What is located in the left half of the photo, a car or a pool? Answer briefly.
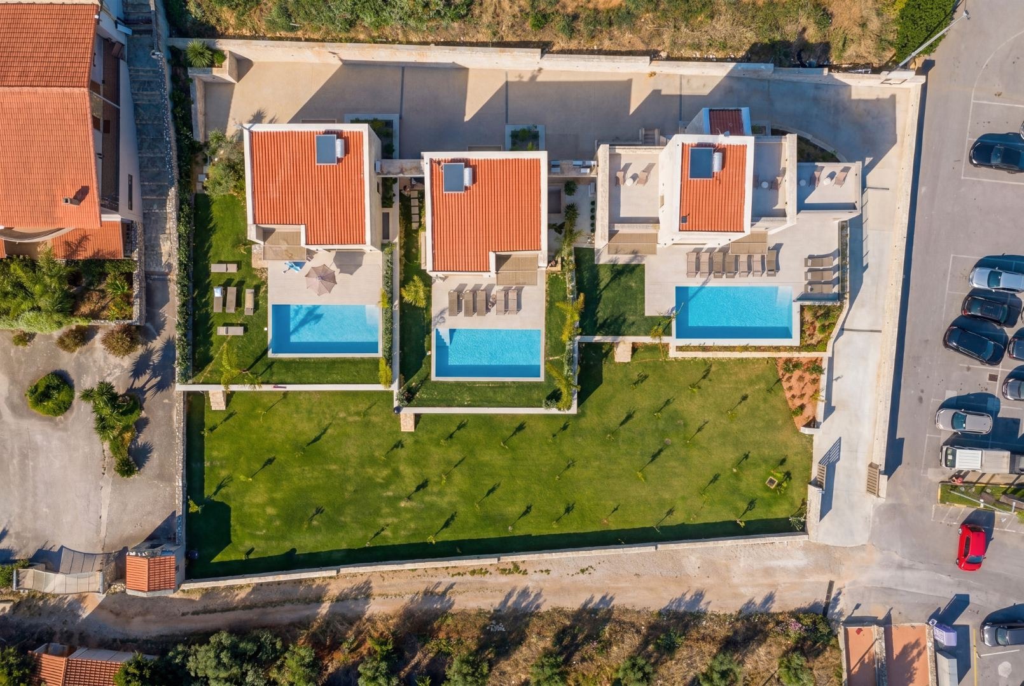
pool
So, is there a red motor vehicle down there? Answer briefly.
Yes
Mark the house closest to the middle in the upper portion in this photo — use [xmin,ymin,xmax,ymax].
[422,151,547,279]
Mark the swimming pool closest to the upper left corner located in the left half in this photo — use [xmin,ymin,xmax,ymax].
[270,303,381,355]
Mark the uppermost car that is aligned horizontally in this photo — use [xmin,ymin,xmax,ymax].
[965,142,1024,173]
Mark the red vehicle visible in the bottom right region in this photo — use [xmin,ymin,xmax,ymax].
[956,524,986,569]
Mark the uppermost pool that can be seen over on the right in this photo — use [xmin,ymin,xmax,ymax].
[674,284,794,340]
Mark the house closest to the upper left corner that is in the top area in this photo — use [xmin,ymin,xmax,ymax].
[0,0,146,258]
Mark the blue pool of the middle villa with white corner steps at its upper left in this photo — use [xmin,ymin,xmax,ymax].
[434,327,543,380]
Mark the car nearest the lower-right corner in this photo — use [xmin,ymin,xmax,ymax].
[976,619,1024,650]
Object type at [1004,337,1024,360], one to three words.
car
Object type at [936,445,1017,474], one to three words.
vehicle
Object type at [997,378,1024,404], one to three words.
car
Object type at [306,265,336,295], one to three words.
umbrella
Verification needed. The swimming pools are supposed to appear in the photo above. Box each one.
[270,303,381,355]
[434,327,543,380]
[674,284,794,340]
